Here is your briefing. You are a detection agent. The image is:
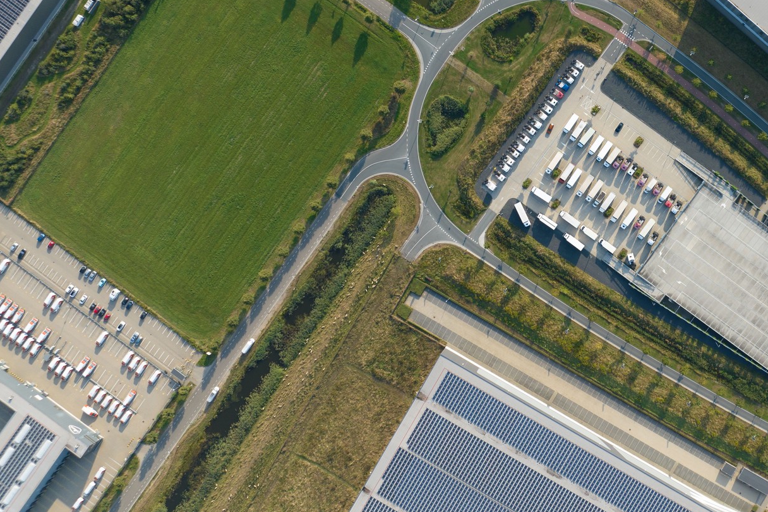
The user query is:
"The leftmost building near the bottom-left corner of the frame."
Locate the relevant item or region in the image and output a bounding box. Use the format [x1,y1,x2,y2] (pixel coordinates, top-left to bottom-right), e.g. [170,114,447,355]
[0,348,114,512]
